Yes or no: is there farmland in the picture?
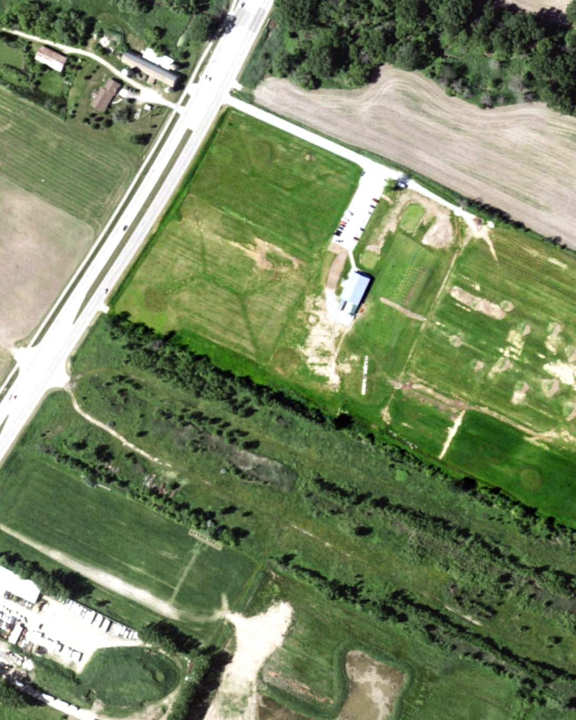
Yes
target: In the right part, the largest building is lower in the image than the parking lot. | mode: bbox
[335,268,370,305]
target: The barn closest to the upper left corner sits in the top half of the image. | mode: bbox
[36,45,66,71]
